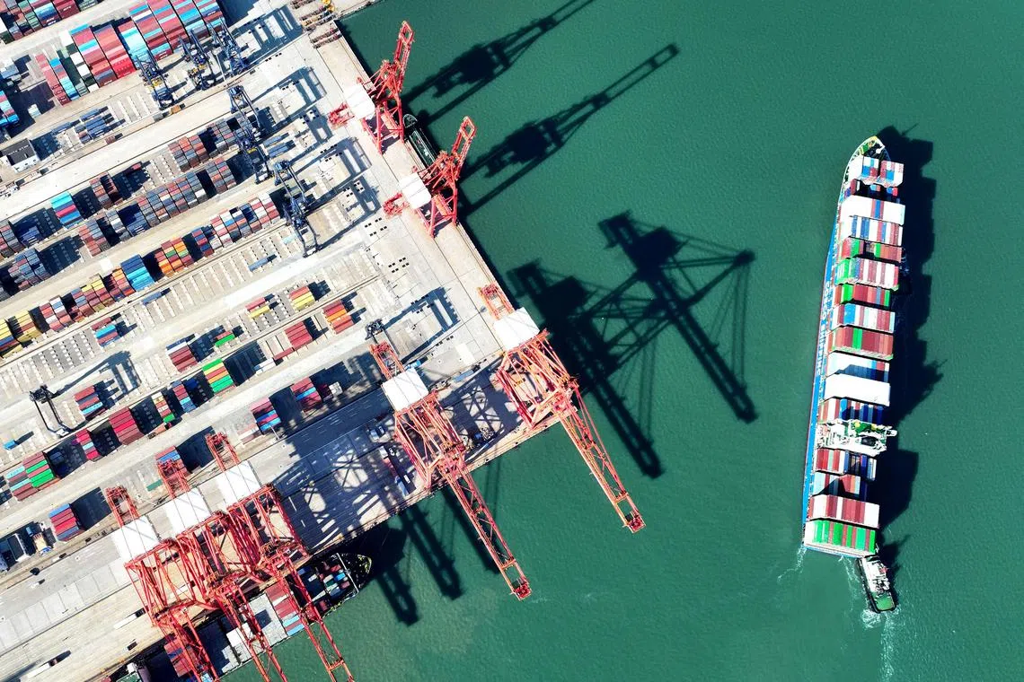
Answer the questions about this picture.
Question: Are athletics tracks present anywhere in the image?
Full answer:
No, I can see no athletics track in this picture.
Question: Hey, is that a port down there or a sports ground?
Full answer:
What you see here is a port.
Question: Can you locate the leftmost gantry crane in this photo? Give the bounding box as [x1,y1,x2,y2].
[22,382,75,440]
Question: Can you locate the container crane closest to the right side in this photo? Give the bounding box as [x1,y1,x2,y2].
[476,278,648,536]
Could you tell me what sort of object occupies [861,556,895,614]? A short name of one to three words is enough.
boat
